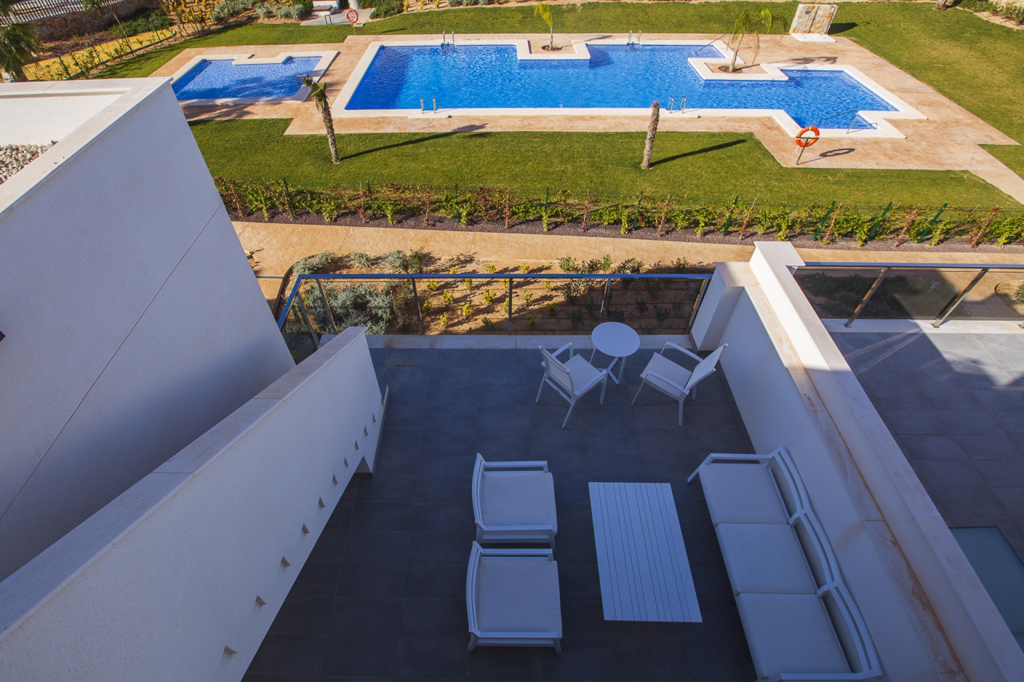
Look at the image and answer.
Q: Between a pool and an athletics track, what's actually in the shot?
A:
pool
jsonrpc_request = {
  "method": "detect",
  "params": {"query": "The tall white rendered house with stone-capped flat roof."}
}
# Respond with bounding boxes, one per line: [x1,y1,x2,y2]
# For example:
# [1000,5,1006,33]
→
[0,77,295,598]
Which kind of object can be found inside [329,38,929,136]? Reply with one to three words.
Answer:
swimming pool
